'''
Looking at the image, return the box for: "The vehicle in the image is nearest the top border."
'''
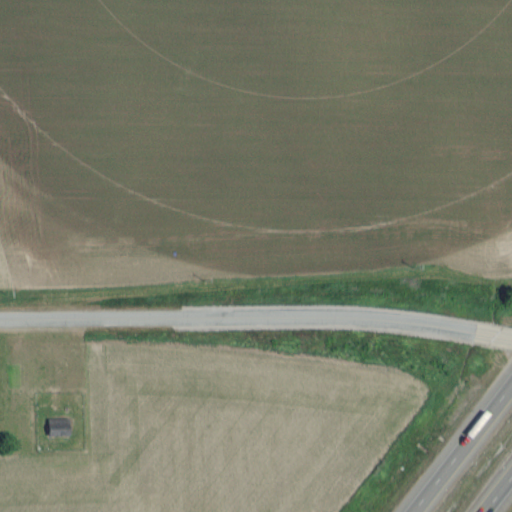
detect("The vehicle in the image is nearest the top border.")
[462,411,491,444]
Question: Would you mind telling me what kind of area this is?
farmland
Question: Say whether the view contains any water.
No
